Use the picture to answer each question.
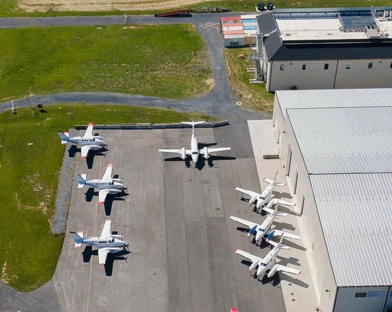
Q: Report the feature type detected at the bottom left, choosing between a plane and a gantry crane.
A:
plane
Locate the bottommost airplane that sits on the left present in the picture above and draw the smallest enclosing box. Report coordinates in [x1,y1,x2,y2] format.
[73,217,130,267]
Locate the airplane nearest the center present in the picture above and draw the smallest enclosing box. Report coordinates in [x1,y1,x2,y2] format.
[157,123,233,166]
